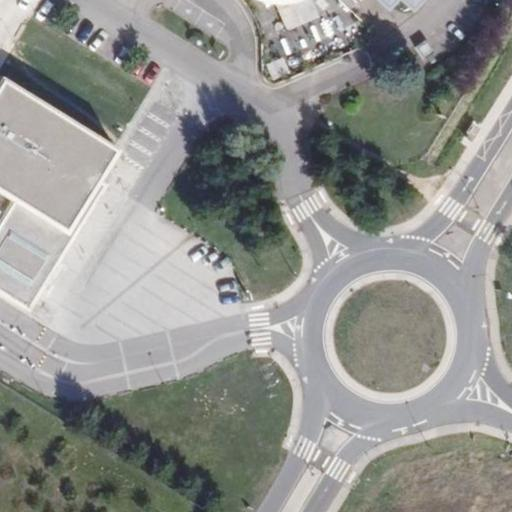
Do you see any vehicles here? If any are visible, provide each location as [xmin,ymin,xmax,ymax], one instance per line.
[216,280,238,292]
[448,21,468,42]
[144,60,162,84]
[209,254,232,273]
[75,18,94,42]
[218,292,240,304]
[113,42,131,66]
[186,246,210,264]
[200,250,222,268]
[37,0,56,20]
[419,42,438,64]
[133,56,151,77]
[88,30,107,53]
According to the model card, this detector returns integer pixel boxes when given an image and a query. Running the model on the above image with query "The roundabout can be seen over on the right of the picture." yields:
[240,96,512,512]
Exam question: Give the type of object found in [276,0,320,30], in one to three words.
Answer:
shed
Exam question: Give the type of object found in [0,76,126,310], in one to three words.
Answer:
building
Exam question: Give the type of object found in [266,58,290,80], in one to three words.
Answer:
shed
